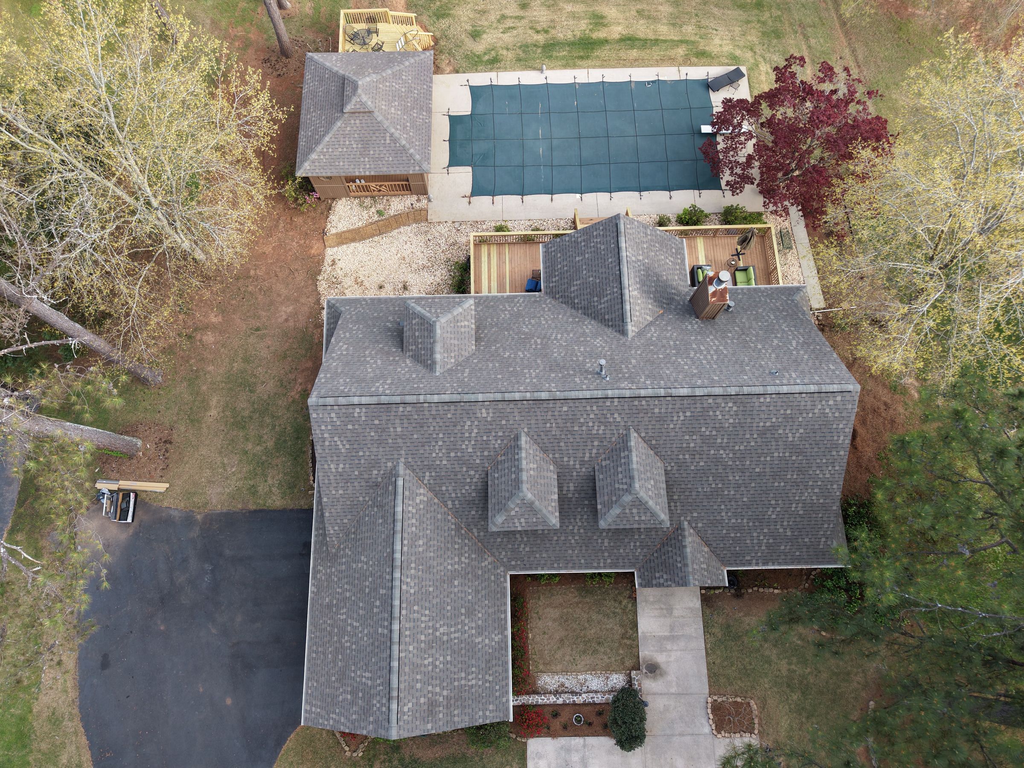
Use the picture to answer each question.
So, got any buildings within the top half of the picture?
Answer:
Yes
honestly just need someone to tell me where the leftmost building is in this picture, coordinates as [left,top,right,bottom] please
[295,50,435,201]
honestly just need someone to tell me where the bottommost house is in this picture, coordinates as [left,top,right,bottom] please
[300,210,860,743]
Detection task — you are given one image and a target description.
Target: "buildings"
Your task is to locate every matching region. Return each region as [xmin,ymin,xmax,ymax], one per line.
[300,210,860,743]
[295,50,435,201]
